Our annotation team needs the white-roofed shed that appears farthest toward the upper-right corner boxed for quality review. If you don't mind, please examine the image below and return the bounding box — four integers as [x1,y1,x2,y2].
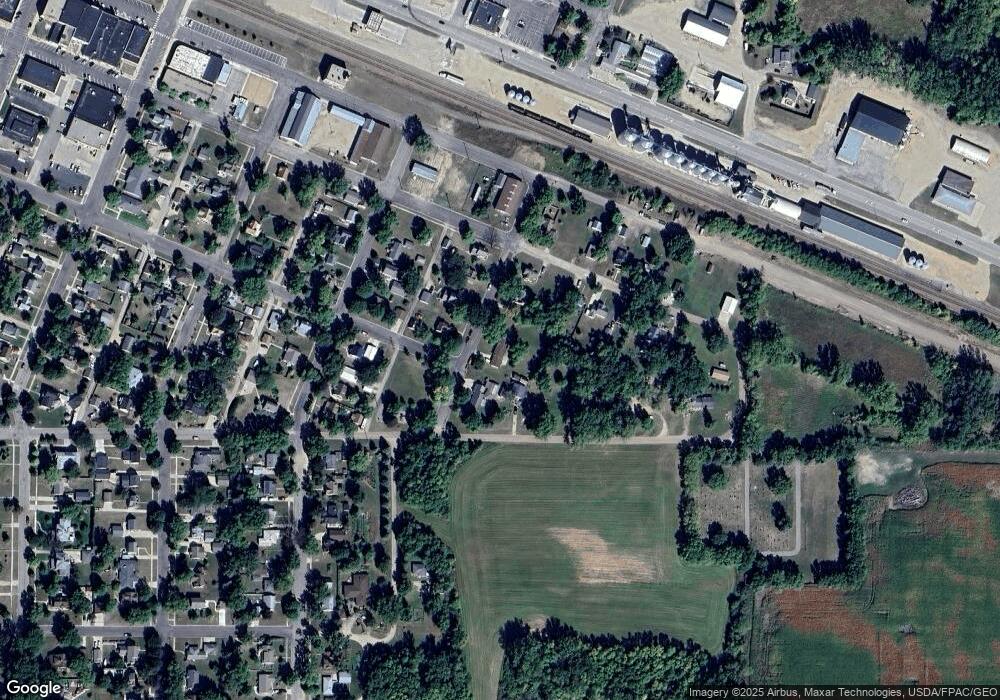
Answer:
[949,139,990,165]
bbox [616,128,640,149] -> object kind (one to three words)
silo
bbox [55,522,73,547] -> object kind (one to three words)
house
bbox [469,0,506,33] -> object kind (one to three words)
building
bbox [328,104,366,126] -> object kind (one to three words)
shed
